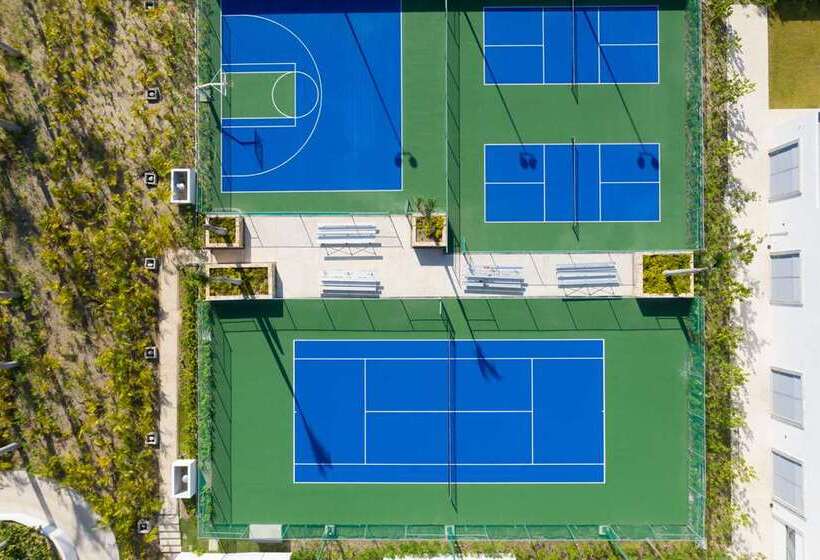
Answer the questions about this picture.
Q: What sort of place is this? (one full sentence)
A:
This image shows a sports ground.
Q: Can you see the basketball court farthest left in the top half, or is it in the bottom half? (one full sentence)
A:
The top half of the photo is where the basketball court farthest left is.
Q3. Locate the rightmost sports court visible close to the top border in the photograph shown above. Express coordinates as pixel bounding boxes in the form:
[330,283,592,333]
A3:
[484,6,660,83]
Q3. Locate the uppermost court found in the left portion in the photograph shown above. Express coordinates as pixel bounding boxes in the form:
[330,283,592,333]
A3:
[199,0,446,216]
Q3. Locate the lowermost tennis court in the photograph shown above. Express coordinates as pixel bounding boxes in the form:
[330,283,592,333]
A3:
[199,300,704,539]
